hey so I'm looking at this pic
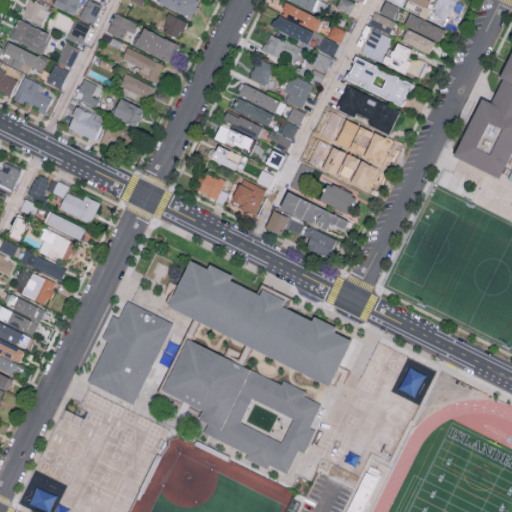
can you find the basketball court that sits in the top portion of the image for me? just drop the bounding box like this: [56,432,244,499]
[465,170,512,219]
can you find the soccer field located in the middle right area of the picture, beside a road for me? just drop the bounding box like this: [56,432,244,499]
[385,184,512,349]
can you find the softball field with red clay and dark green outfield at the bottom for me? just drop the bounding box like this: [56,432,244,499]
[132,434,295,512]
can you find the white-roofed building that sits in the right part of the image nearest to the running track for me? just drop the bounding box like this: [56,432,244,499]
[347,467,382,512]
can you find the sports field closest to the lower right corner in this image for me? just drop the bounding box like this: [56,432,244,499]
[390,418,512,512]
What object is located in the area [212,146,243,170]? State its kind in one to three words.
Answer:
house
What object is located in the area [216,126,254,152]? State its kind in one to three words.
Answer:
house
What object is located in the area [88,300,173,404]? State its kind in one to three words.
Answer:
building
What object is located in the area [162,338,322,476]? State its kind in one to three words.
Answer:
building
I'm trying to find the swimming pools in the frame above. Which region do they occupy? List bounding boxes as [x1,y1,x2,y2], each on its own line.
[24,235,41,250]
[88,69,110,84]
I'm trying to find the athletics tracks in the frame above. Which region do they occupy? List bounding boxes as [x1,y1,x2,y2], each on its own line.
[373,399,512,512]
